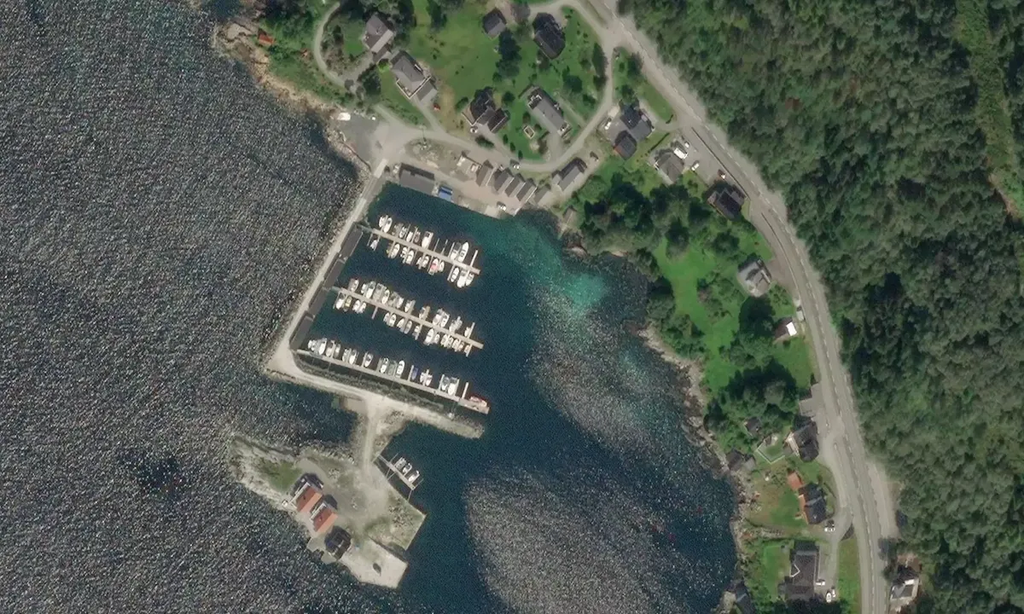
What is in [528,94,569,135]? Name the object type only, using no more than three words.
house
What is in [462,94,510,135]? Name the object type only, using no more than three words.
house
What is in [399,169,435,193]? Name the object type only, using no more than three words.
building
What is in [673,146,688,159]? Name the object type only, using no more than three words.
vehicle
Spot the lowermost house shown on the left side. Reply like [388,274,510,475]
[324,530,351,560]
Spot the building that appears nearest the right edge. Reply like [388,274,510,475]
[890,578,919,603]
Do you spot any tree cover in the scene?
Yes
